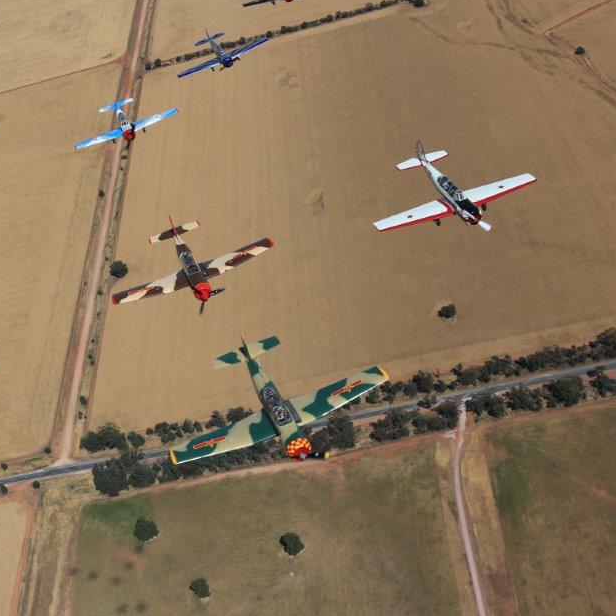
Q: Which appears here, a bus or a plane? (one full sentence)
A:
The one in the frame is a plane.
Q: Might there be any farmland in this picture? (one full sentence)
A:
Yes, there is farmland in the image.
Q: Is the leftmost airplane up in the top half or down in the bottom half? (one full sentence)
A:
The leftmost airplane sits in the top half of the picture.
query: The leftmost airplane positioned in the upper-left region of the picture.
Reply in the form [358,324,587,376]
[75,94,177,148]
